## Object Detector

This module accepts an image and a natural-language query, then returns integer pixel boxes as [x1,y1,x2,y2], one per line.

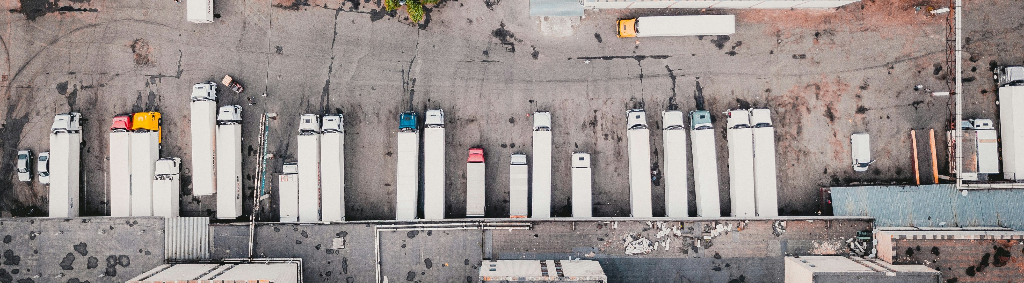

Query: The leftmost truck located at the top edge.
[187,0,218,23]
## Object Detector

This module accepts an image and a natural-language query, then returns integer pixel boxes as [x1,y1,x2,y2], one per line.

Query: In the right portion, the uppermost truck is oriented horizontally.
[613,15,734,38]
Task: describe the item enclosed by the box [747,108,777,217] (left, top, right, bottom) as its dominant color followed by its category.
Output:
white truck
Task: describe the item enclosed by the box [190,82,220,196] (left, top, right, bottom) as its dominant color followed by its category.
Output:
white truck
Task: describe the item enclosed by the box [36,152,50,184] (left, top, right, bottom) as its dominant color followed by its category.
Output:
white car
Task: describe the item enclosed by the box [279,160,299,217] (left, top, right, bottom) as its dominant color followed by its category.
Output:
white vehicle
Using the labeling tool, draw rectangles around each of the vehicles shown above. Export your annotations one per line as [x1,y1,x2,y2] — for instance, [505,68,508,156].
[49,112,86,216]
[36,152,50,184]
[747,108,777,217]
[279,160,299,217]
[397,111,420,217]
[613,15,734,38]
[131,111,164,216]
[849,132,876,171]
[16,150,35,181]
[508,152,529,215]
[153,155,185,217]
[661,110,687,217]
[190,82,220,196]
[965,118,998,173]
[298,113,323,217]
[187,0,218,23]
[570,151,592,217]
[720,109,755,217]
[531,111,554,217]
[466,146,487,215]
[110,112,140,216]
[320,113,347,217]
[424,108,448,217]
[997,65,1024,178]
[689,109,720,217]
[216,104,246,217]
[625,109,651,217]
